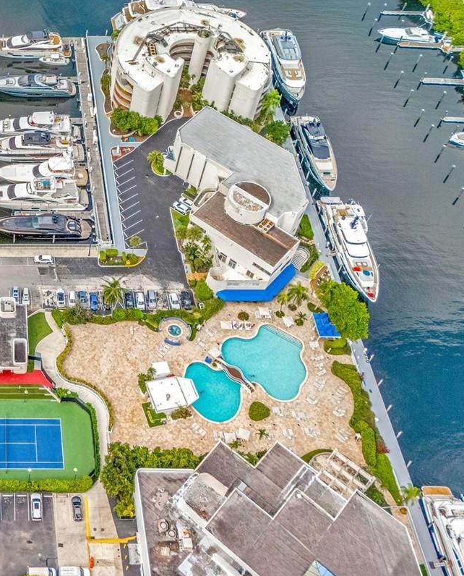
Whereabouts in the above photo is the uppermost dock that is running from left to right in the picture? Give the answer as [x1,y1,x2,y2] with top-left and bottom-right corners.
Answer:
[379,8,436,27]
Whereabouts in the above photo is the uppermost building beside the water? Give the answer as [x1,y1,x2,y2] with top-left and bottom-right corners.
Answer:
[111,8,274,132]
